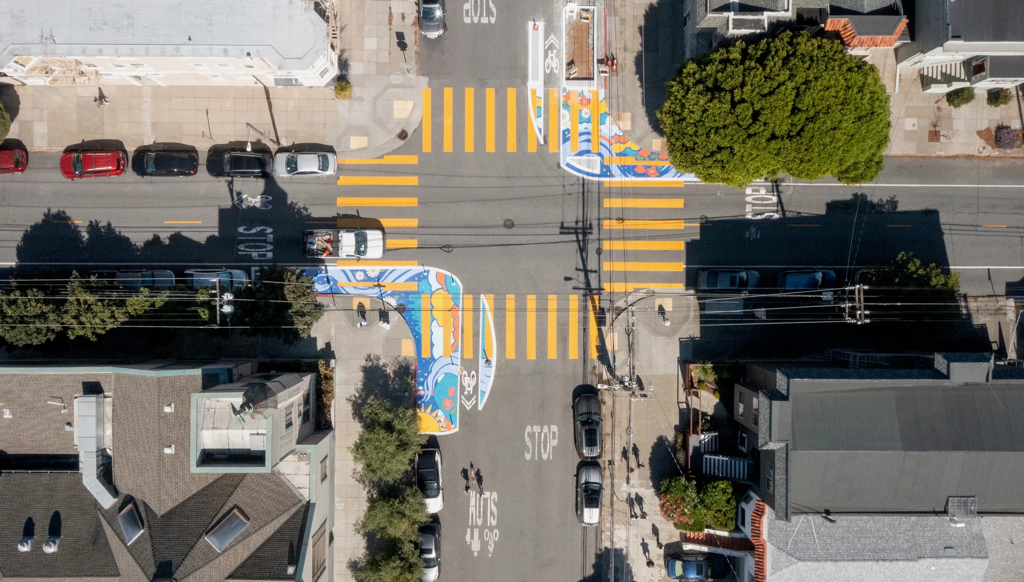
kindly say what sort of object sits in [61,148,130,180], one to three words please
car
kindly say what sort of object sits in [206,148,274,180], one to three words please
car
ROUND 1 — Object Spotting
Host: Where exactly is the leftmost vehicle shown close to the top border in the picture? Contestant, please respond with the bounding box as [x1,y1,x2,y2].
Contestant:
[416,0,447,43]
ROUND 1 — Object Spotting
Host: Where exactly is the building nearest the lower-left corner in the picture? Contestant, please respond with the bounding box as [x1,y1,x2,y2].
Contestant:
[0,355,336,582]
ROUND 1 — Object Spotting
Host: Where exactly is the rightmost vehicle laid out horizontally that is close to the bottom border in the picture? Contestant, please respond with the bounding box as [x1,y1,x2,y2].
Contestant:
[664,550,731,582]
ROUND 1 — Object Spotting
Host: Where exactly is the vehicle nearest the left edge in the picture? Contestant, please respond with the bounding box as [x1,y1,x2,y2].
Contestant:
[0,148,32,175]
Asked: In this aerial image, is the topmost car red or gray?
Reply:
gray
